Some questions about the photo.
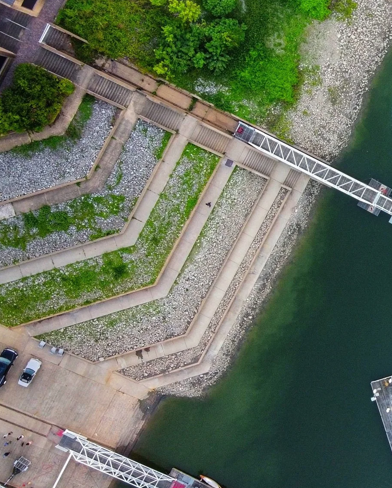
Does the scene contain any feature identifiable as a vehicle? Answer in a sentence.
Yes, there's a vehicle down there.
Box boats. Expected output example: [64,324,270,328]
[200,475,222,488]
